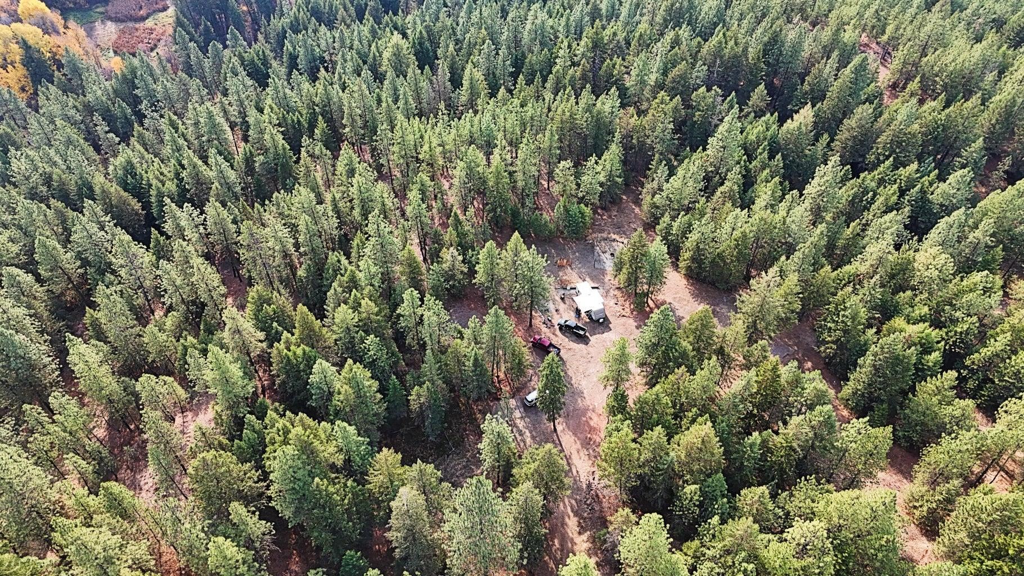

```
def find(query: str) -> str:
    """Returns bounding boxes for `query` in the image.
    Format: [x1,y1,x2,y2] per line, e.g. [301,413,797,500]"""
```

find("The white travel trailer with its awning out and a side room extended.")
[571,282,603,323]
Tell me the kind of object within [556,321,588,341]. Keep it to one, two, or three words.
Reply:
vehicle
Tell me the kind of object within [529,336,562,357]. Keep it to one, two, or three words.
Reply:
truck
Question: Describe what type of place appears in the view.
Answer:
forest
